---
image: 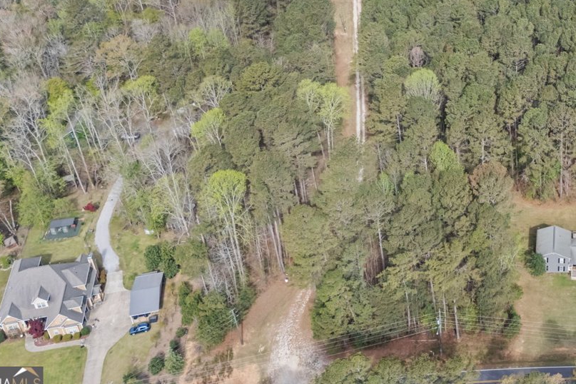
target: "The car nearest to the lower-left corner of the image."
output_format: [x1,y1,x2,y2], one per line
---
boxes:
[127,321,151,335]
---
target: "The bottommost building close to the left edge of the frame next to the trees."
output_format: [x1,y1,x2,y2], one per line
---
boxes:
[0,250,113,339]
